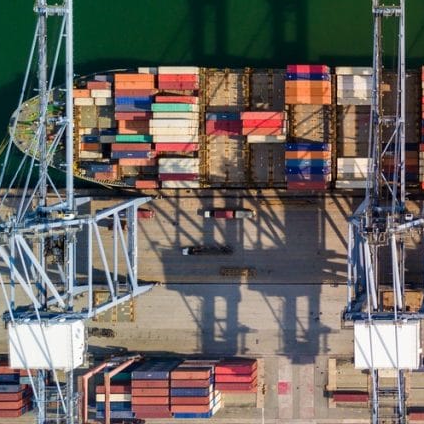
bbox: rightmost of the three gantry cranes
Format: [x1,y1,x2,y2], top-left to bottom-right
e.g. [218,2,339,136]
[345,0,424,424]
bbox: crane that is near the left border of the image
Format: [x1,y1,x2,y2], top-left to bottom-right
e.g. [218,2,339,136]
[0,0,167,424]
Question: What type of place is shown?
port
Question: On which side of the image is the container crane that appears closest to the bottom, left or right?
left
